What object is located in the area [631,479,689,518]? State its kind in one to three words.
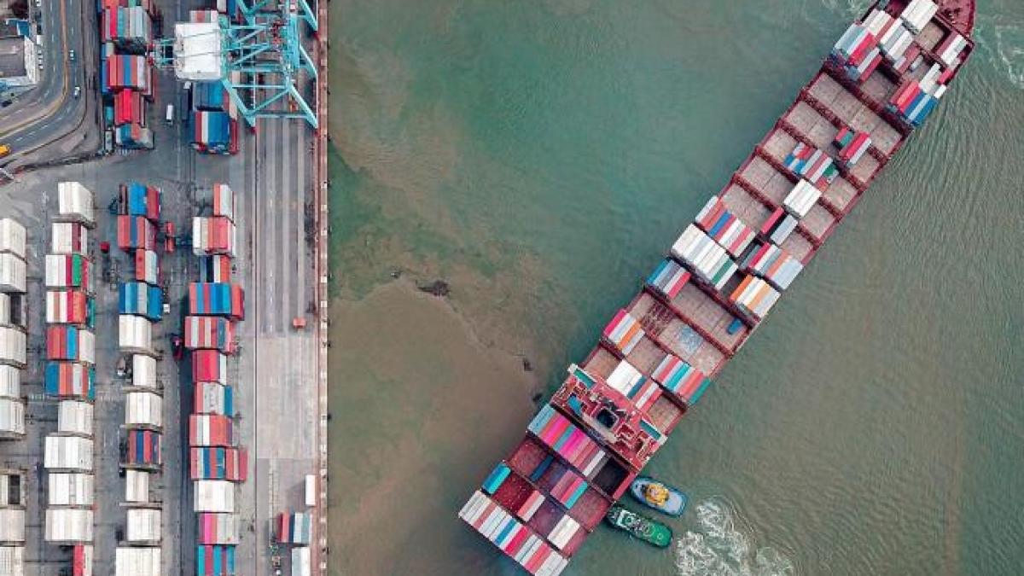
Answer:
boat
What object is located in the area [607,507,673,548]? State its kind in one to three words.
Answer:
boat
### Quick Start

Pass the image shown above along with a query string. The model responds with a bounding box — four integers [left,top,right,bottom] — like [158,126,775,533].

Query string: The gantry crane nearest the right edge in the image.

[236,0,319,37]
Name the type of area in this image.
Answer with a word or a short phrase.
port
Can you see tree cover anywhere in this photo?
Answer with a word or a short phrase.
No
